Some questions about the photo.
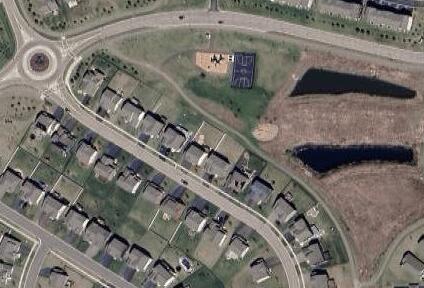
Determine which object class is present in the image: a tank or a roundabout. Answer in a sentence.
The one in the frame is a roundabout.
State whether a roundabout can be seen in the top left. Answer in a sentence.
Yes, you'll find a roundabout in the top left.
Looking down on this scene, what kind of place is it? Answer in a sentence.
This image shows a residential area.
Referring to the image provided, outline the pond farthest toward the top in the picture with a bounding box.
[292,69,416,98]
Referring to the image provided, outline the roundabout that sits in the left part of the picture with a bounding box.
[3,32,69,90]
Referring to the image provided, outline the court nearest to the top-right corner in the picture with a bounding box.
[231,52,256,89]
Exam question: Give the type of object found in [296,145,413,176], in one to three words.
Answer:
pond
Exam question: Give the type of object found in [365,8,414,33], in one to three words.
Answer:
house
